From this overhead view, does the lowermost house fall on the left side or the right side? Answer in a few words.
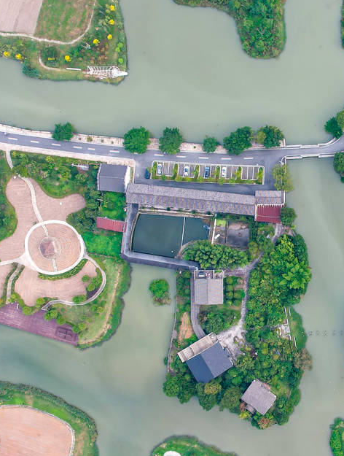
right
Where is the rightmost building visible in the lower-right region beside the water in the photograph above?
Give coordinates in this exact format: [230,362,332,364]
[239,377,278,415]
